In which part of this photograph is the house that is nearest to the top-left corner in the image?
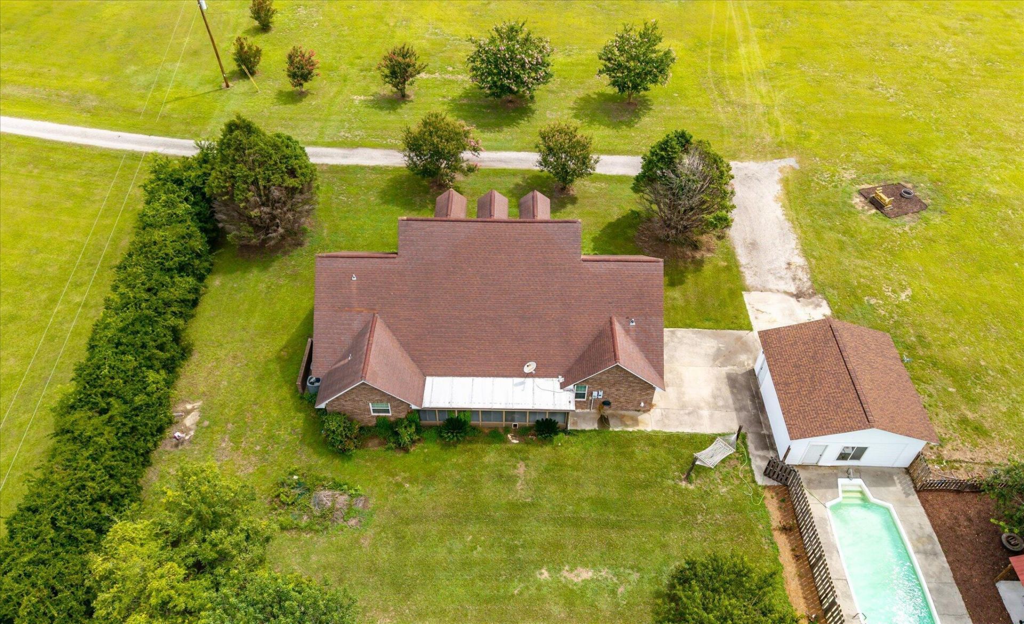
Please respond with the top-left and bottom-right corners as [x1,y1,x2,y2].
[313,188,666,429]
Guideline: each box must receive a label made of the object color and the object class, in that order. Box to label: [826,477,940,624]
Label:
white swimming pool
